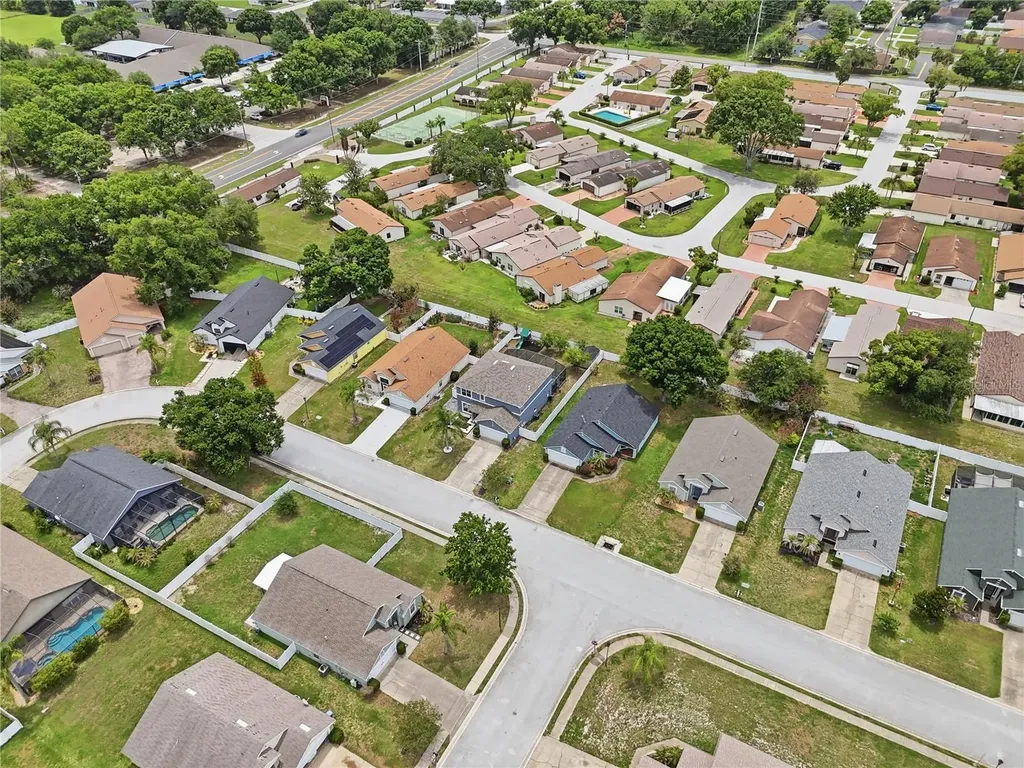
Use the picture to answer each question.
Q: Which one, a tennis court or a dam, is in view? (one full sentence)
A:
There is a tennis court in the scene.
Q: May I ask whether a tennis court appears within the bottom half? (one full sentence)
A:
No, I can find no tennis court within the bottom half.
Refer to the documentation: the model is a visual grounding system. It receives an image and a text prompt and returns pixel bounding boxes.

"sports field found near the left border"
[0,11,79,45]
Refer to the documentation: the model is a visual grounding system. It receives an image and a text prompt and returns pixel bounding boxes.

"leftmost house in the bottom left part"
[0,530,86,645]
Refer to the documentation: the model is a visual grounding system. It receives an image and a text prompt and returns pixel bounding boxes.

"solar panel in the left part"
[320,314,375,368]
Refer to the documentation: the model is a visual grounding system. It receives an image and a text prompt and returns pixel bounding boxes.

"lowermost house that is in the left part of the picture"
[122,649,340,768]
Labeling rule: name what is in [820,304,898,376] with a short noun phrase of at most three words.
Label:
house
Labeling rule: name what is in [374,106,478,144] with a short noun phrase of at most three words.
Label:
tennis court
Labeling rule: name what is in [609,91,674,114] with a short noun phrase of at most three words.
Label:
building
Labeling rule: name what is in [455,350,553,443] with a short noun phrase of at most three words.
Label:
house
